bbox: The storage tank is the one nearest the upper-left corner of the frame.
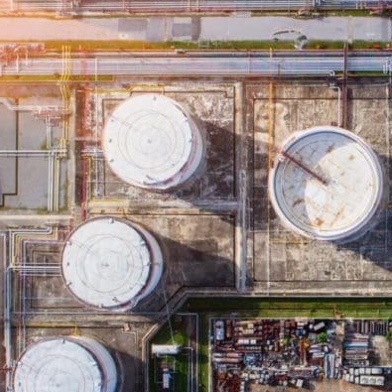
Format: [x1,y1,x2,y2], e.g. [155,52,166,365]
[102,96,207,196]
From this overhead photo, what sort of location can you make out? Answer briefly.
industrial area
